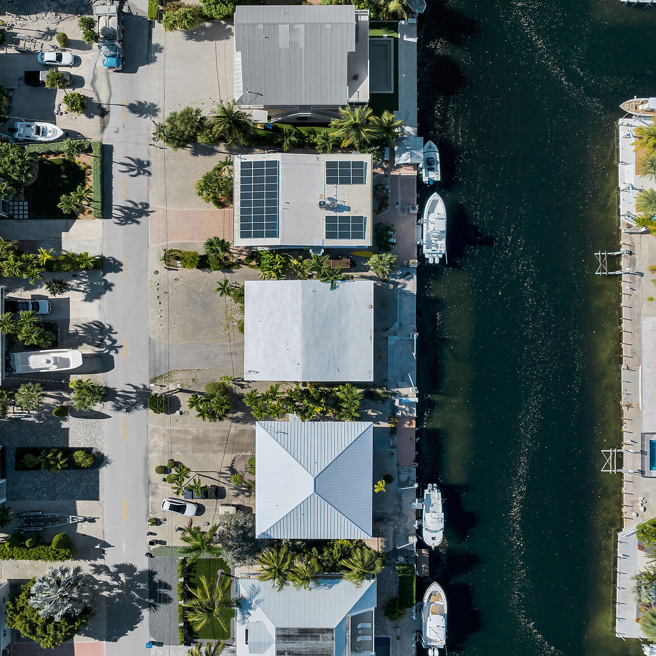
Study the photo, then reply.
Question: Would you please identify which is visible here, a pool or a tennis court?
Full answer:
I can see a pool in this picture.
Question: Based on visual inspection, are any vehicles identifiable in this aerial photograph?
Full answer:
Yes, the frame does contain a vehicle.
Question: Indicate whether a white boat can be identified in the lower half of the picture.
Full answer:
Yes, you'll find a white boat in the lower half of the picture.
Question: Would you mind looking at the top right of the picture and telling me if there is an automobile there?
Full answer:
No, at the top right of the picture there is no automobile.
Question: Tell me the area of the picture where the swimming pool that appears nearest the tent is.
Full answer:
You can find the swimming pool that appears nearest the tent in the top area of the picture.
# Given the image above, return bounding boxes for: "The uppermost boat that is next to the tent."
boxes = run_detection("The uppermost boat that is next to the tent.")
[424,140,439,187]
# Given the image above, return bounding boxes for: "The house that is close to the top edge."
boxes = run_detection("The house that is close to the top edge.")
[234,5,369,122]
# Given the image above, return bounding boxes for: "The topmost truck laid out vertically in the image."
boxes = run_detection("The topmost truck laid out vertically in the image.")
[96,0,122,74]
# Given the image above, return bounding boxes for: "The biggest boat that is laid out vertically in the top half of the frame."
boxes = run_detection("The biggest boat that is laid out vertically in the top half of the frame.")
[424,193,446,263]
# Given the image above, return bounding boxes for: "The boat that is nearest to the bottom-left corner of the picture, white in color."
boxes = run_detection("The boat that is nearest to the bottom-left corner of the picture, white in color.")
[10,350,82,373]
